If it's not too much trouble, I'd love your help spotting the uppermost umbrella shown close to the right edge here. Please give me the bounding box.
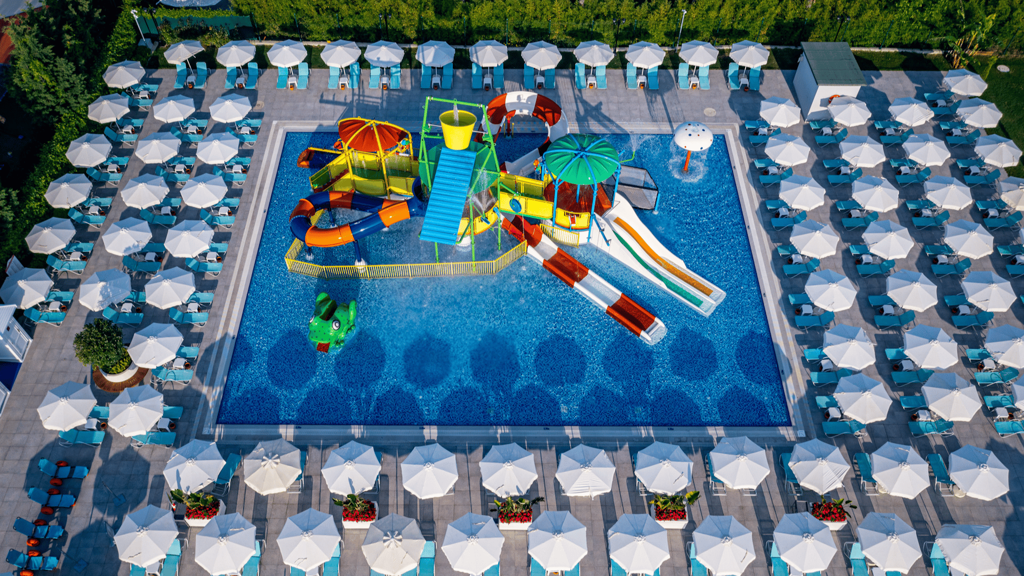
[943,68,986,107]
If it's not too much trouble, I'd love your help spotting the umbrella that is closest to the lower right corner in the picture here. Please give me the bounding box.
[936,515,1004,576]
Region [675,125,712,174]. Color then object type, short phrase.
white fountain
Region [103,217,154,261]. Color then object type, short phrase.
white umbrella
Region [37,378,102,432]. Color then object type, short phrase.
white umbrella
